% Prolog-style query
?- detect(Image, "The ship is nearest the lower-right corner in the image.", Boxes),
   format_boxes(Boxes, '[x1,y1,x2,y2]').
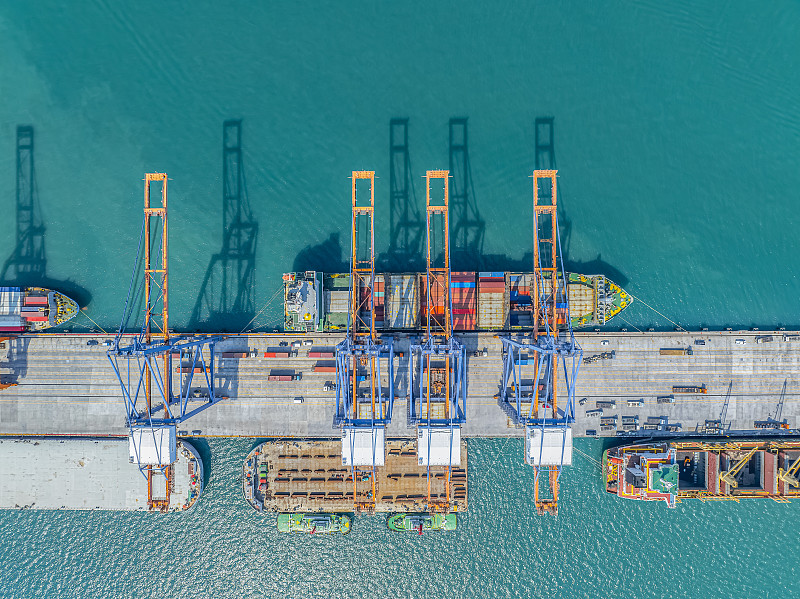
[597,437,800,509]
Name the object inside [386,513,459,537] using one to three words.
boat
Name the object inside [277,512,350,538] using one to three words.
boat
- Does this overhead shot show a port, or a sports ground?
port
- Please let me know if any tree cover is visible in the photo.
No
